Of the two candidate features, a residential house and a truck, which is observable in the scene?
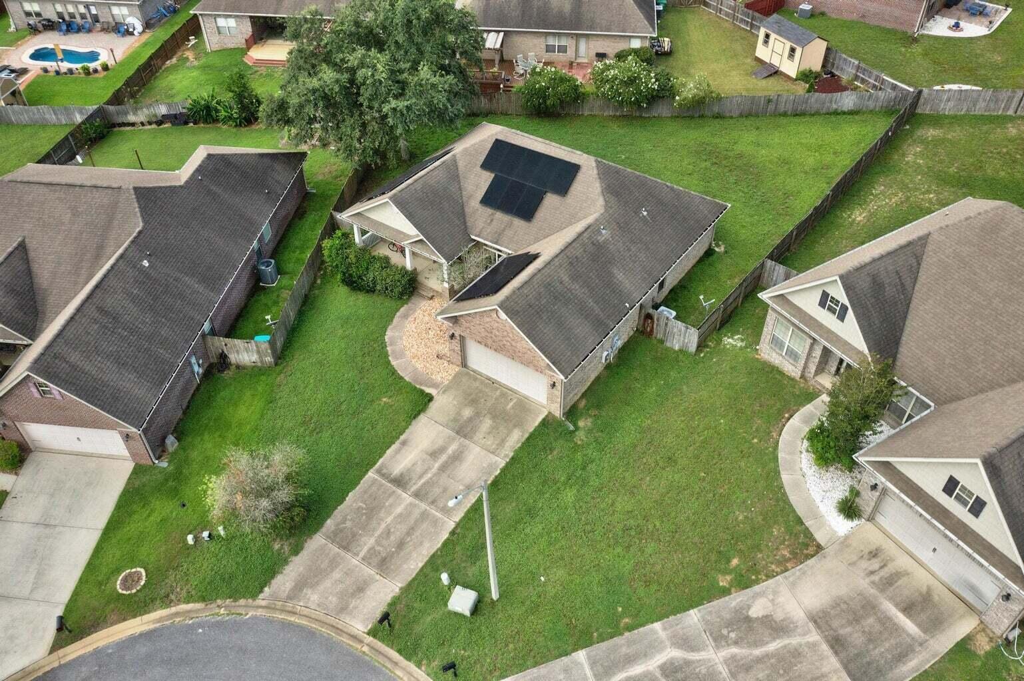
residential house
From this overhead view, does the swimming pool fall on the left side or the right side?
left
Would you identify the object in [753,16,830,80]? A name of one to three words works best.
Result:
shed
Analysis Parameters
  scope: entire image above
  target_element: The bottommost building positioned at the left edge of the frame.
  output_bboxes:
[0,146,313,468]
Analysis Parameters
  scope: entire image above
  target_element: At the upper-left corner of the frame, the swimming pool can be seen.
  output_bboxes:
[22,45,106,65]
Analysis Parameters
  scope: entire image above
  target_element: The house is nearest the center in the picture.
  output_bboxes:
[339,122,733,429]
